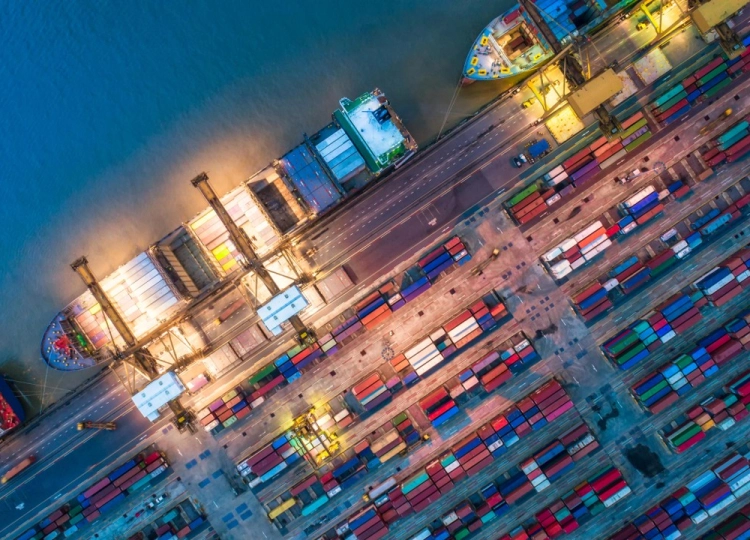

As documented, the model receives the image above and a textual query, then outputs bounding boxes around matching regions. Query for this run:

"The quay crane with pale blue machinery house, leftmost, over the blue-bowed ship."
[69,259,210,427]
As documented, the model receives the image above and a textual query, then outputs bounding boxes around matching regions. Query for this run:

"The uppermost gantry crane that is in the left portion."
[192,175,317,342]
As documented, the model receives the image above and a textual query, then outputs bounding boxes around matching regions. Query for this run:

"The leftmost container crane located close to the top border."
[508,0,625,133]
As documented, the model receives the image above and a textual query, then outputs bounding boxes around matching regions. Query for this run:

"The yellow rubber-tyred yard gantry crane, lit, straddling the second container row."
[283,403,336,473]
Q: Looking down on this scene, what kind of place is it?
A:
port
